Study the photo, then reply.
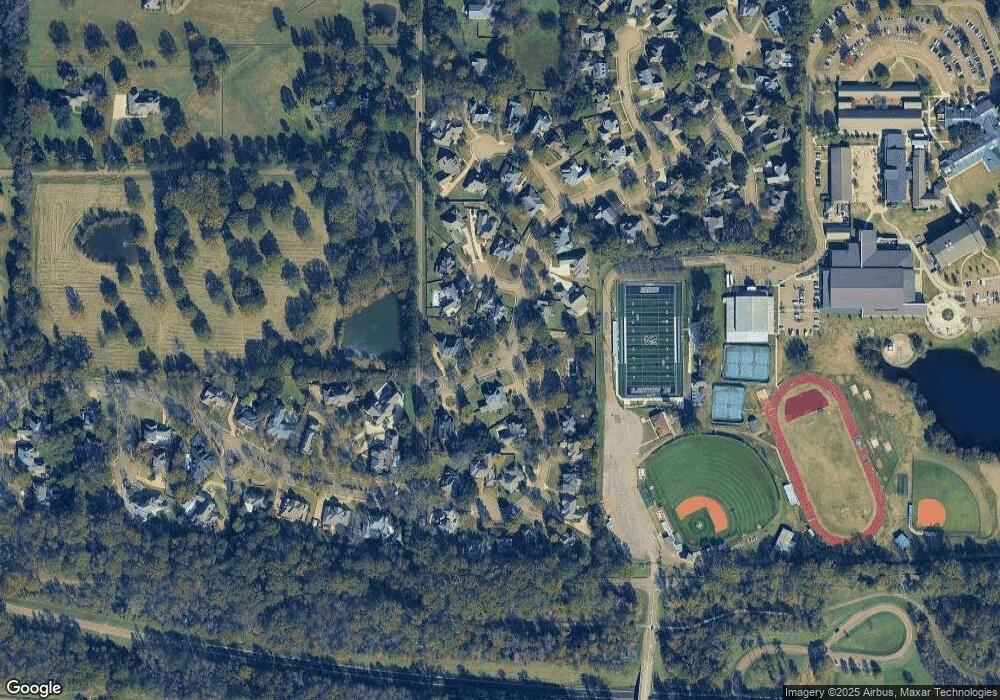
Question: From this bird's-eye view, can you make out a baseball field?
Yes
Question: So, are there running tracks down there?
Yes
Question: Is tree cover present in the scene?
Yes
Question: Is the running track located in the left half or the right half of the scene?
right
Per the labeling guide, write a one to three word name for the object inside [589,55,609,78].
house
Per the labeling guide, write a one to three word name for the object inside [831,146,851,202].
building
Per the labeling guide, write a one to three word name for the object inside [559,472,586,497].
house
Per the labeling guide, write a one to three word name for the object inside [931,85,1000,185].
building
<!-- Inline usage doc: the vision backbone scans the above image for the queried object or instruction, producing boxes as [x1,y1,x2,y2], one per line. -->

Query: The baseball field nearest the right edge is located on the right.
[913,461,979,533]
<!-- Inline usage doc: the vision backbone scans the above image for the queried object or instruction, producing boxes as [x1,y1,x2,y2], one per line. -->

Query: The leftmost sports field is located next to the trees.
[616,281,683,399]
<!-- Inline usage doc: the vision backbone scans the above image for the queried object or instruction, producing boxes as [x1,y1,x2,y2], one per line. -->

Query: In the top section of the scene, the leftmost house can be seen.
[61,90,90,110]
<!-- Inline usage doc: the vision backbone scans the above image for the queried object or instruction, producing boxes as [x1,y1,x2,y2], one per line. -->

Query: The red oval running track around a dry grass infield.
[766,373,887,546]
